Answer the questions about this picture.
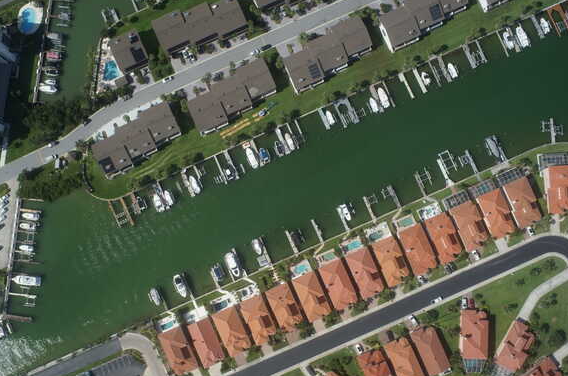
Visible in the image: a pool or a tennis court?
pool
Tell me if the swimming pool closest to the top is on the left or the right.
left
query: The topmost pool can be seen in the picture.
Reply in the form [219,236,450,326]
[18,2,43,35]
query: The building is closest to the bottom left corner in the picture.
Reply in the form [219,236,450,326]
[159,326,196,375]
